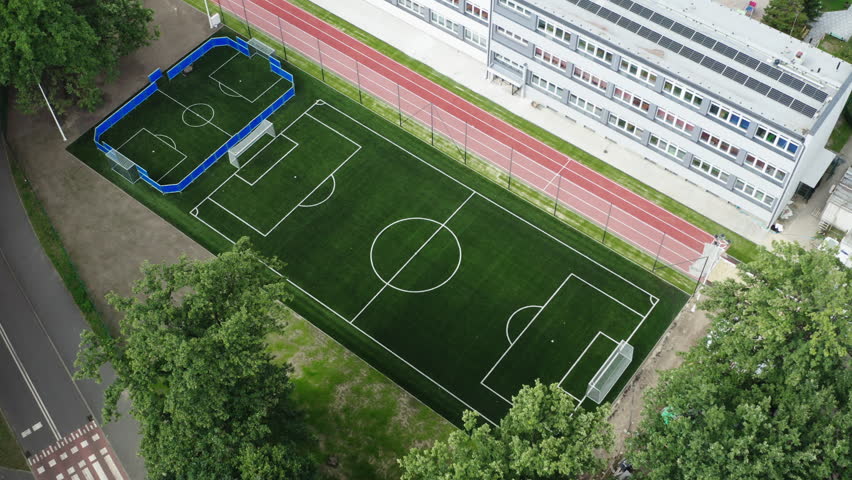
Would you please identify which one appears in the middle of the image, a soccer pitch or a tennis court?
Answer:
soccer pitch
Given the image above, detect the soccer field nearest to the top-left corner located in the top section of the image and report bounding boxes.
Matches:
[62,24,317,215]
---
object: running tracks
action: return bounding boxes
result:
[210,0,722,280]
